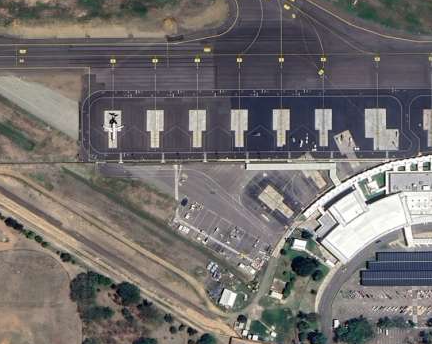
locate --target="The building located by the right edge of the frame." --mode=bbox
[302,154,432,266]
